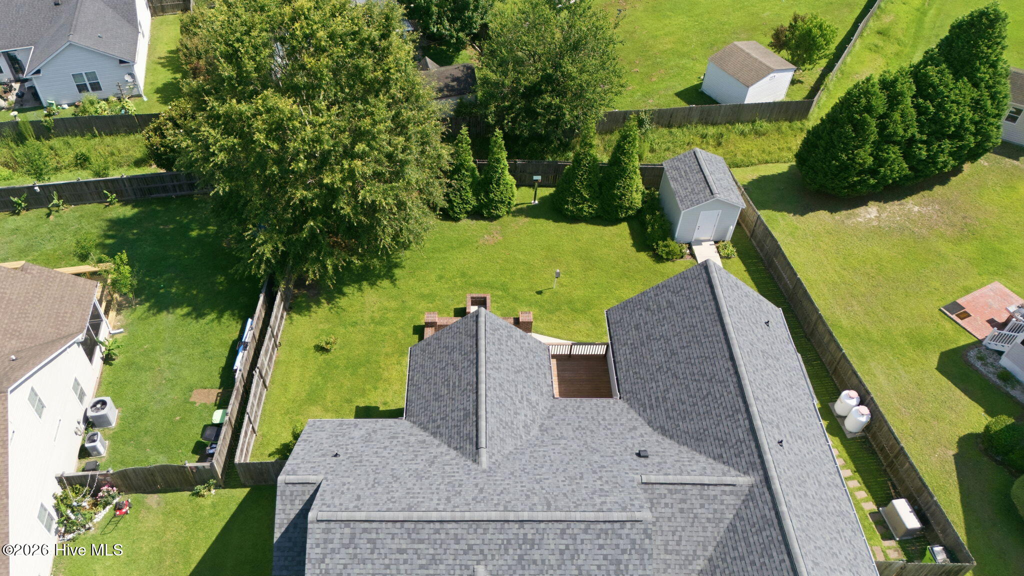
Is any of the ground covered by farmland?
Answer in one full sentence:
No, there's no farmland in this view.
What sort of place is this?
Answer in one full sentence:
It's a residential area.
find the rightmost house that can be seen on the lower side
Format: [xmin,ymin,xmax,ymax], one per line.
[976,316,1024,382]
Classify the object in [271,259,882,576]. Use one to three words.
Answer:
house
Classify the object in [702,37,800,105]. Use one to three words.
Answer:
shed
